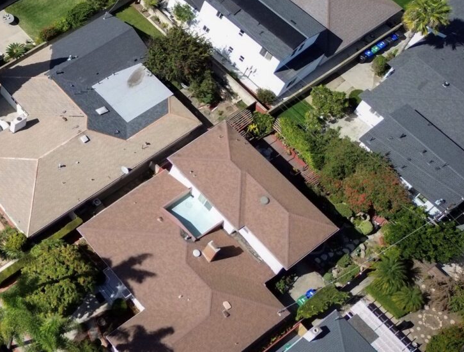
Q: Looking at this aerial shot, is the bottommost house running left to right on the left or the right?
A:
right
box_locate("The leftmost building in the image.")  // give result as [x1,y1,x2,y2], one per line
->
[0,12,201,241]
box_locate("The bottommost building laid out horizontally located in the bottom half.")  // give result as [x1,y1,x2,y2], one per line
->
[276,309,378,352]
